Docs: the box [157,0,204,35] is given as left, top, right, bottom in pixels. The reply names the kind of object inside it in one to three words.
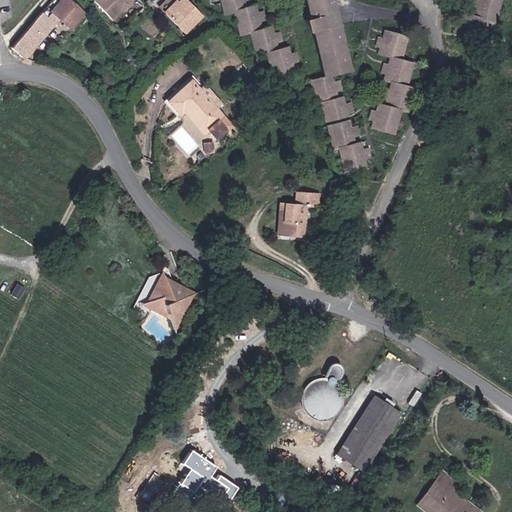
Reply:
house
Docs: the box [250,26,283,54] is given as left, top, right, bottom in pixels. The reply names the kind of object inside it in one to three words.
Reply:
house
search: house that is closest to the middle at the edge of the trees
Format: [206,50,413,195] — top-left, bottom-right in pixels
[278,192,320,239]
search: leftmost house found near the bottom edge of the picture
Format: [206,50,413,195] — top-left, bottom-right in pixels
[180,450,239,500]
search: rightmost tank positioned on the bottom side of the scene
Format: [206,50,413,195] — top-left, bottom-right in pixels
[296,364,344,430]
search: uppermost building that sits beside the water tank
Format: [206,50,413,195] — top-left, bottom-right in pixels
[338,396,401,472]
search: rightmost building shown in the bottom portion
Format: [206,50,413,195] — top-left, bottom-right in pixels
[416,471,483,512]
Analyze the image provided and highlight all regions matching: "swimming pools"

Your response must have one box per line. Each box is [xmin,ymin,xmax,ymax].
[141,310,172,344]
